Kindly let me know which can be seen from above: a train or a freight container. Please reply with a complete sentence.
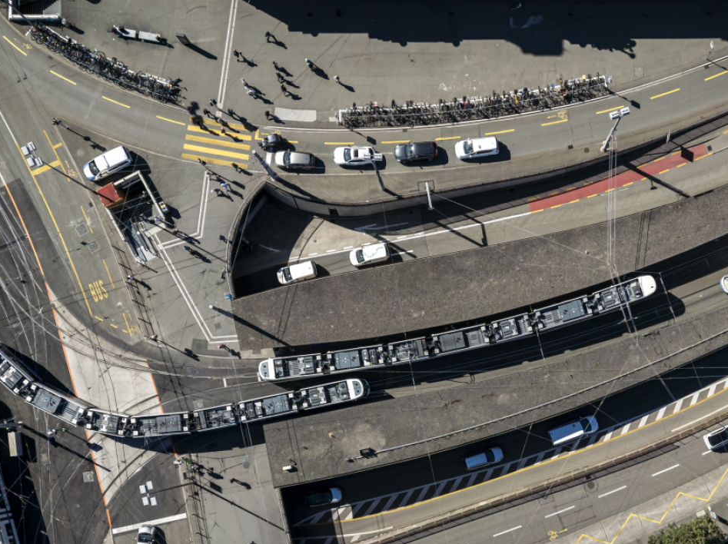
Visible in the photo is a train.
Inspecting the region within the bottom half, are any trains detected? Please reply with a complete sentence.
Yes, the scene does show a train within the bottom half.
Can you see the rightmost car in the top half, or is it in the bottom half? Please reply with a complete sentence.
You can find the rightmost car in the bottom half.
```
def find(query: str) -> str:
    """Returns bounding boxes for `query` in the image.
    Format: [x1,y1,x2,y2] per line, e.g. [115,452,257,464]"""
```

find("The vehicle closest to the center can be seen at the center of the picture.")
[349,242,390,264]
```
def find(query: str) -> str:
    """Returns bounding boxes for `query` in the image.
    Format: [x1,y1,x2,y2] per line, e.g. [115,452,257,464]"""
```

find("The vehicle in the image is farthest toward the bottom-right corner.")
[701,424,728,451]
